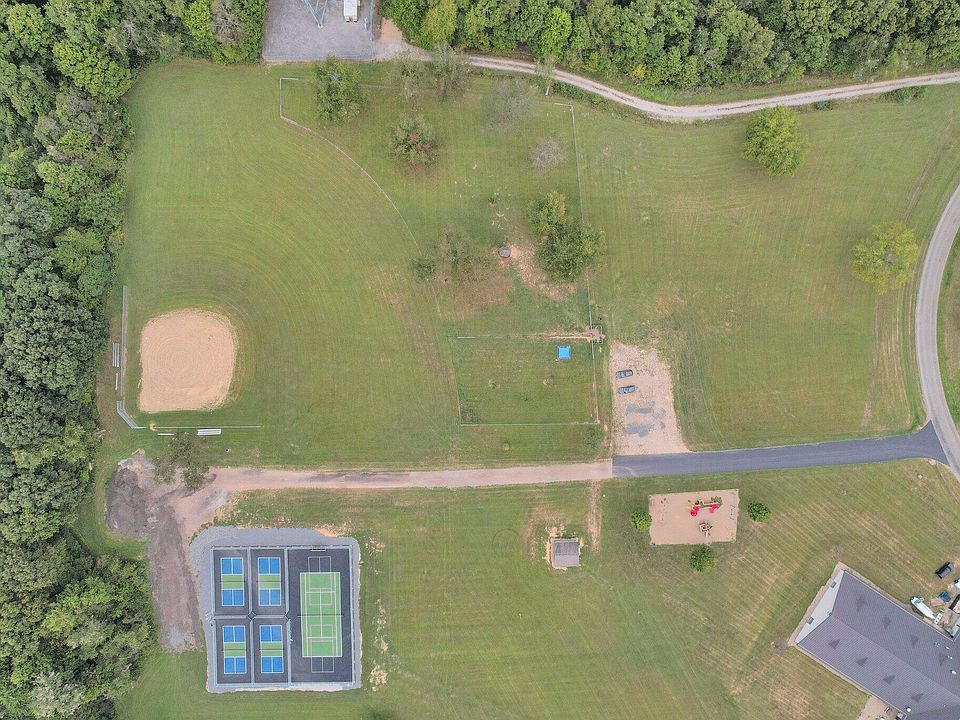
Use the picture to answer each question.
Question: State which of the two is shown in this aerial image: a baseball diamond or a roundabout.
baseball diamond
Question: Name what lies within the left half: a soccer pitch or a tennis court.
tennis court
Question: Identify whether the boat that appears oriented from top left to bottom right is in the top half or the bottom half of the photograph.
bottom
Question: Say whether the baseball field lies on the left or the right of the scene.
left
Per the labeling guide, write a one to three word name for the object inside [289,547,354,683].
tennis court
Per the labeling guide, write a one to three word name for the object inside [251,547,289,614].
sports court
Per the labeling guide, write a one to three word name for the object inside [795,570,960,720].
building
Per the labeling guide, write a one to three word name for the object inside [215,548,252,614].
sports court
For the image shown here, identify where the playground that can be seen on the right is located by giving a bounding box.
[649,488,740,546]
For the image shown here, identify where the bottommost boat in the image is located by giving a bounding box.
[911,598,936,620]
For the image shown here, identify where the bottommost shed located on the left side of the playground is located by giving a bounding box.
[551,537,578,564]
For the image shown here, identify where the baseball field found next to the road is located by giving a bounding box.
[121,62,461,427]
